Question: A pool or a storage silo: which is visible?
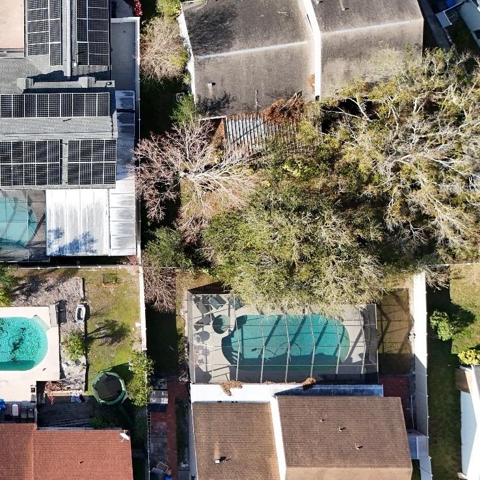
pool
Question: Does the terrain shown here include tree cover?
Yes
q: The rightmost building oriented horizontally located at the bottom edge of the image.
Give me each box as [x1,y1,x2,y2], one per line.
[186,384,419,480]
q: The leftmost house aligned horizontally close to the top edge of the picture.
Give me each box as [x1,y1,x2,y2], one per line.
[176,0,425,119]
